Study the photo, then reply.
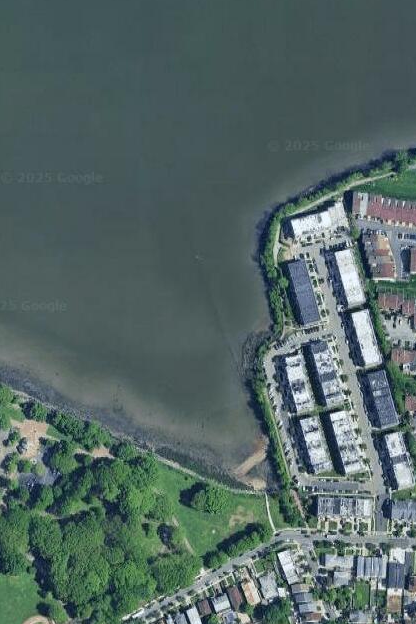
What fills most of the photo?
water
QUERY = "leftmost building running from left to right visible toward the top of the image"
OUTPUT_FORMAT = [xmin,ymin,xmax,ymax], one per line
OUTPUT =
[291,203,351,240]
